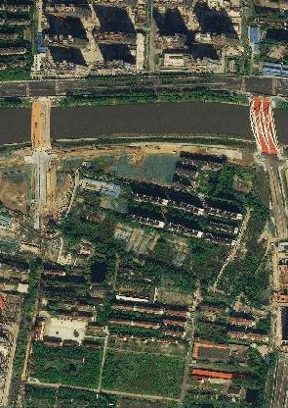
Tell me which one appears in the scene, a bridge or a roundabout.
bridge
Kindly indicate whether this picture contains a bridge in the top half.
Yes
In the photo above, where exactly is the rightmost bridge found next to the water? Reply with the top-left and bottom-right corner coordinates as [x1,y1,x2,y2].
[251,95,283,157]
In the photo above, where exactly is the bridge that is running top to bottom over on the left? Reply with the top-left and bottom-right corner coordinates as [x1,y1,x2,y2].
[31,96,51,152]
